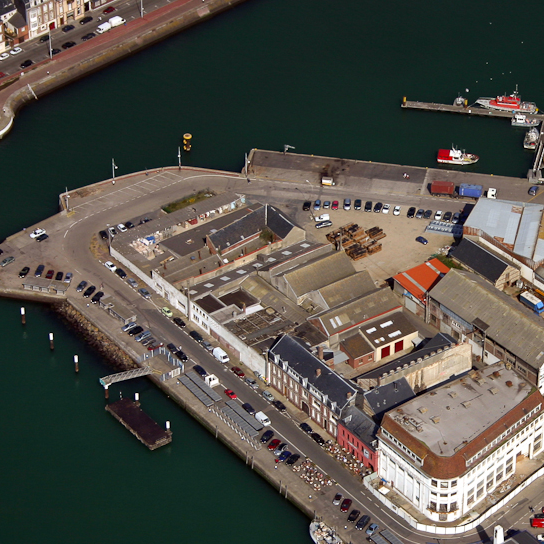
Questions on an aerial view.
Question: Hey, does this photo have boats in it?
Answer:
Yes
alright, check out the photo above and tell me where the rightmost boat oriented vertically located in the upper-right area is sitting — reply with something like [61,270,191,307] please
[525,128,538,150]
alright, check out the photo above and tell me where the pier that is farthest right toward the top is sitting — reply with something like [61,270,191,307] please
[402,101,544,169]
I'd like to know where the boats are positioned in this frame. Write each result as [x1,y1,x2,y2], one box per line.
[455,95,463,108]
[525,128,538,150]
[474,88,539,115]
[437,146,481,165]
[307,520,336,544]
[511,114,538,127]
